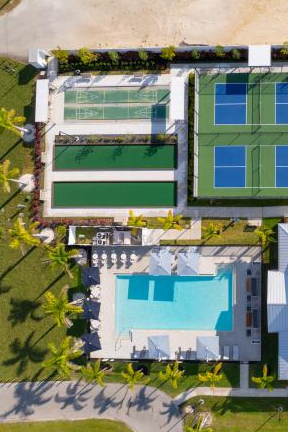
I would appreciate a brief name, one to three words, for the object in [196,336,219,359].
umbrella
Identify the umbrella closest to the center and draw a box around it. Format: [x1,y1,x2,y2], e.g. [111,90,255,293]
[148,250,173,275]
